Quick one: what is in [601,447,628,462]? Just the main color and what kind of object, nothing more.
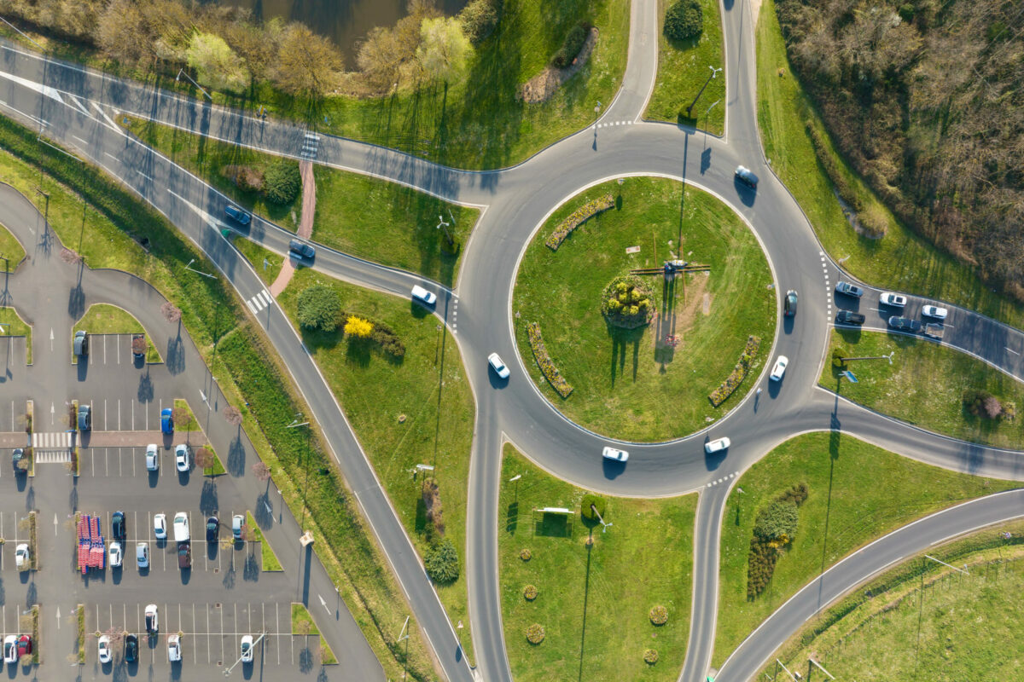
white car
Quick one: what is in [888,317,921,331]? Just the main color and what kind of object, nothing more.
blue vehicle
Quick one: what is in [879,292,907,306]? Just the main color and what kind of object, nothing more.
white car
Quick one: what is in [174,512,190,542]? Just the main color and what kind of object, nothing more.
white vehicle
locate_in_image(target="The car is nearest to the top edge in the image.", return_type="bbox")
[735,167,758,186]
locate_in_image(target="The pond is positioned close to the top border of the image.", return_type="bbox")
[219,0,467,73]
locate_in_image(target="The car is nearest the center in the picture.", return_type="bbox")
[487,354,510,379]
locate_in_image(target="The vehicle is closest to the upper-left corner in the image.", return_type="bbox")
[224,205,252,224]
